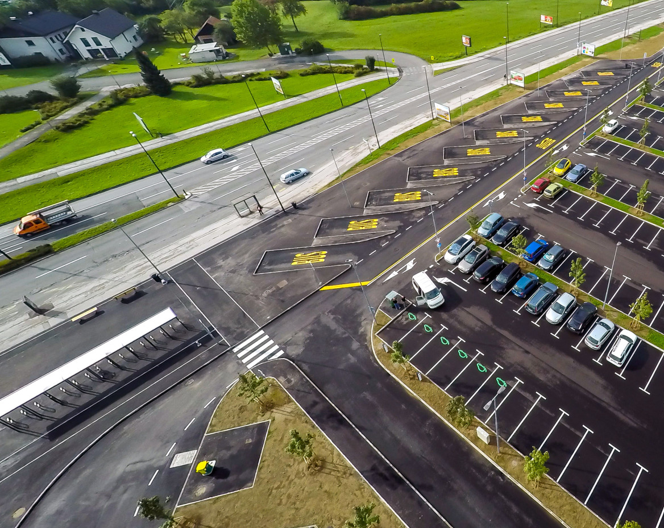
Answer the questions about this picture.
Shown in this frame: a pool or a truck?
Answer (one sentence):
It is a truck that can be seen here.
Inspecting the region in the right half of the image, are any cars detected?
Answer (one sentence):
Yes, looking in the right half of the image, one can make out a car.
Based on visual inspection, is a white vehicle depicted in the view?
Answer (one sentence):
Yes, the picture does show a white vehicle.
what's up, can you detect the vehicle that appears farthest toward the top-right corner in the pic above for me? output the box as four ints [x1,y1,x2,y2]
[605,118,622,132]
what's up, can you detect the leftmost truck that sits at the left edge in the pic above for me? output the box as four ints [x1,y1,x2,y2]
[12,199,90,239]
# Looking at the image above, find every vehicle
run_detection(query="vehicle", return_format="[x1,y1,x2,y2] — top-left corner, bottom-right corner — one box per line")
[601,327,636,369]
[480,210,508,236]
[583,319,613,354]
[455,246,489,275]
[565,162,588,180]
[527,235,552,258]
[540,241,568,267]
[562,306,594,340]
[542,294,573,329]
[440,238,473,267]
[529,178,551,195]
[503,276,535,305]
[277,167,310,185]
[412,273,449,314]
[495,218,524,243]
[12,199,90,239]
[521,285,555,318]
[542,183,564,201]
[605,118,622,132]
[200,147,230,164]
[554,157,574,175]
[471,256,505,285]
[487,263,520,297]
